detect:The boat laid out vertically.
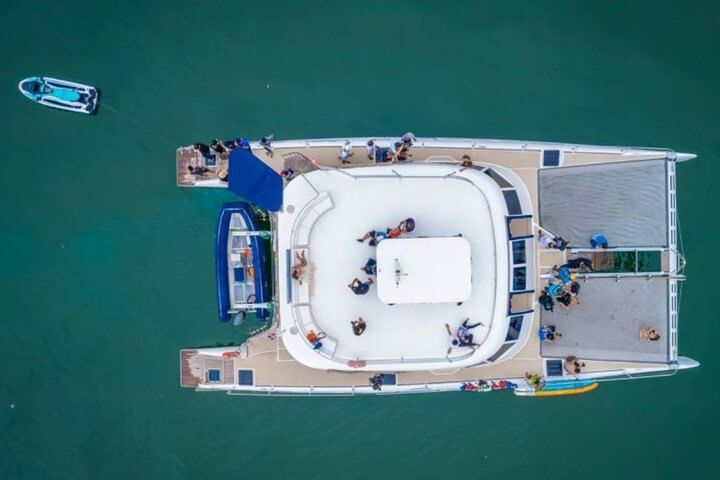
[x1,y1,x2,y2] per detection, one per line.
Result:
[214,202,269,324]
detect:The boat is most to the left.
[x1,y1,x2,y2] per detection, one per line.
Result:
[18,79,104,115]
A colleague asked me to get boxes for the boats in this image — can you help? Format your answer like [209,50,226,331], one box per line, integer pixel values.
[18,79,104,115]
[214,202,269,324]
[176,136,699,397]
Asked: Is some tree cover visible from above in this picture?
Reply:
No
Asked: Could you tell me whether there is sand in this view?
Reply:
No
